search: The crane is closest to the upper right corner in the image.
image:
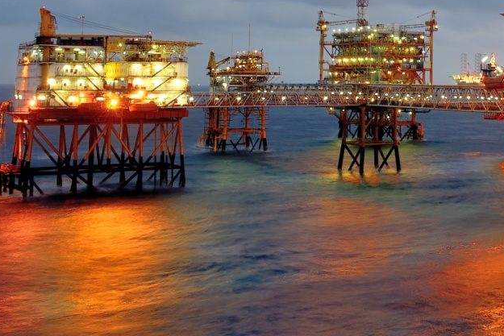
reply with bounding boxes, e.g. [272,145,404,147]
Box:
[403,6,436,101]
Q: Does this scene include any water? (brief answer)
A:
Yes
